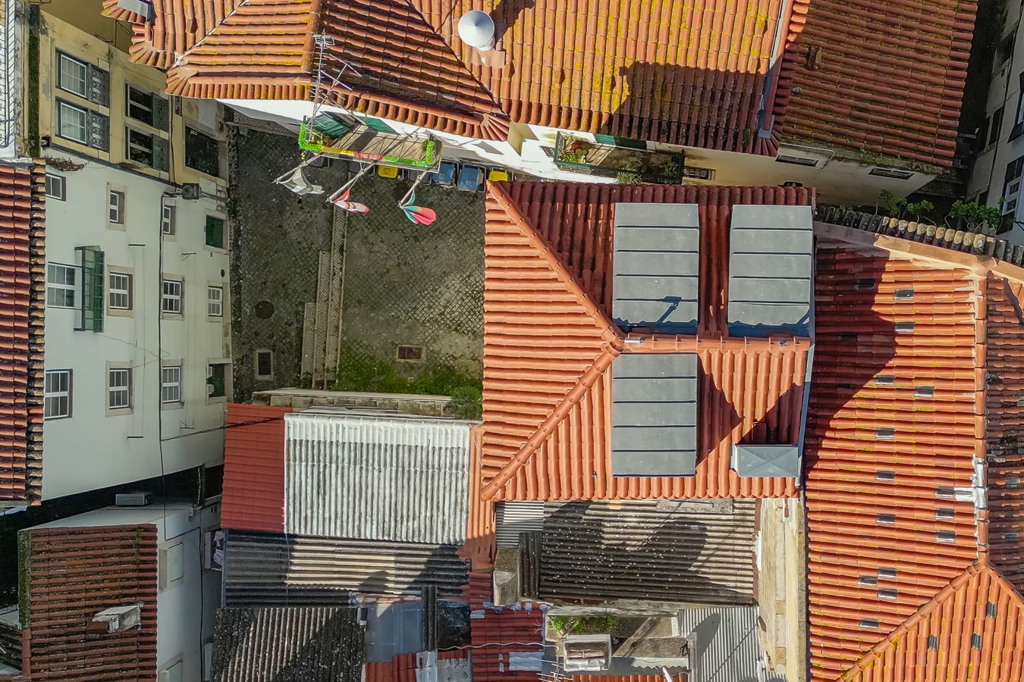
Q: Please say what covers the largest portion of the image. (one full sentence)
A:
The scene is dominated by buildings.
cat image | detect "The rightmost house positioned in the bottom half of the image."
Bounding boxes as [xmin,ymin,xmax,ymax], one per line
[804,207,1024,682]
